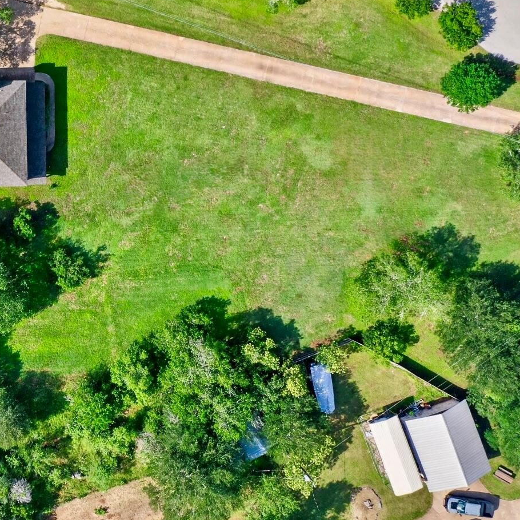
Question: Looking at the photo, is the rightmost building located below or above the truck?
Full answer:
Relative to the truck, the rightmost building lies above it.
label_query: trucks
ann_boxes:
[441,495,496,520]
